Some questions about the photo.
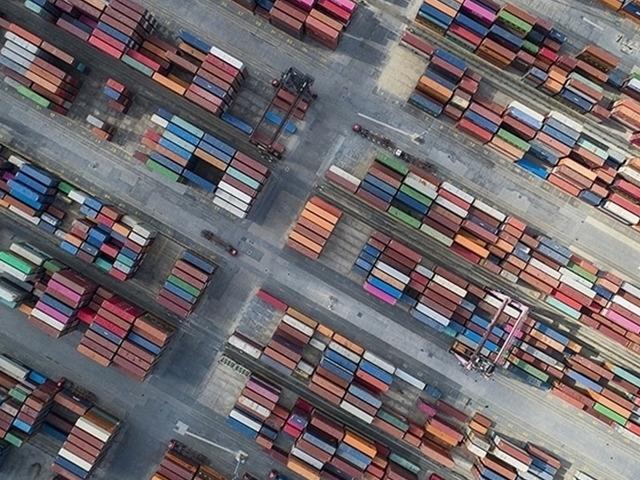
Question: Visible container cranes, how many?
2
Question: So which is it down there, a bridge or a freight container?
freight container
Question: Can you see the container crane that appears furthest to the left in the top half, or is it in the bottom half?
top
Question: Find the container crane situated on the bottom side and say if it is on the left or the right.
right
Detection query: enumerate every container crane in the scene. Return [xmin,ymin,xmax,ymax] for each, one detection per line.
[448,283,531,377]
[246,63,319,161]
